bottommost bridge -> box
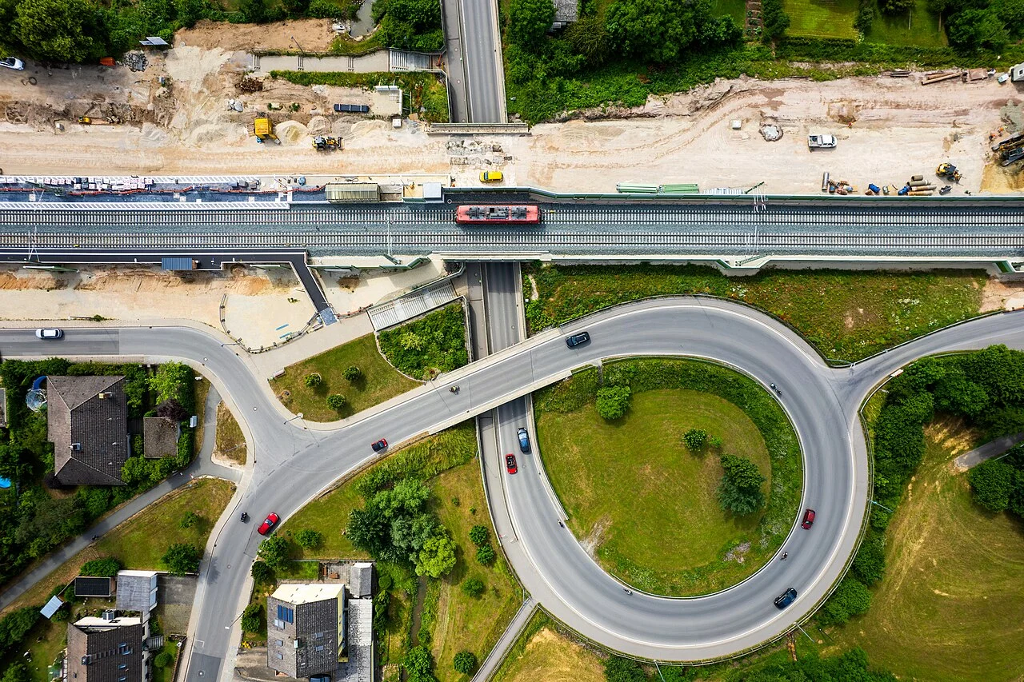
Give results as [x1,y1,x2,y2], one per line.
[429,327,572,437]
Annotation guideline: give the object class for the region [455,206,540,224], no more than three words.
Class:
rail car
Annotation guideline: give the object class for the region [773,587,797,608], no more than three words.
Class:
car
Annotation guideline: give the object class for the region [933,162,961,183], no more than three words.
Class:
work vehicle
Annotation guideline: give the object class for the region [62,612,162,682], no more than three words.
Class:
house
